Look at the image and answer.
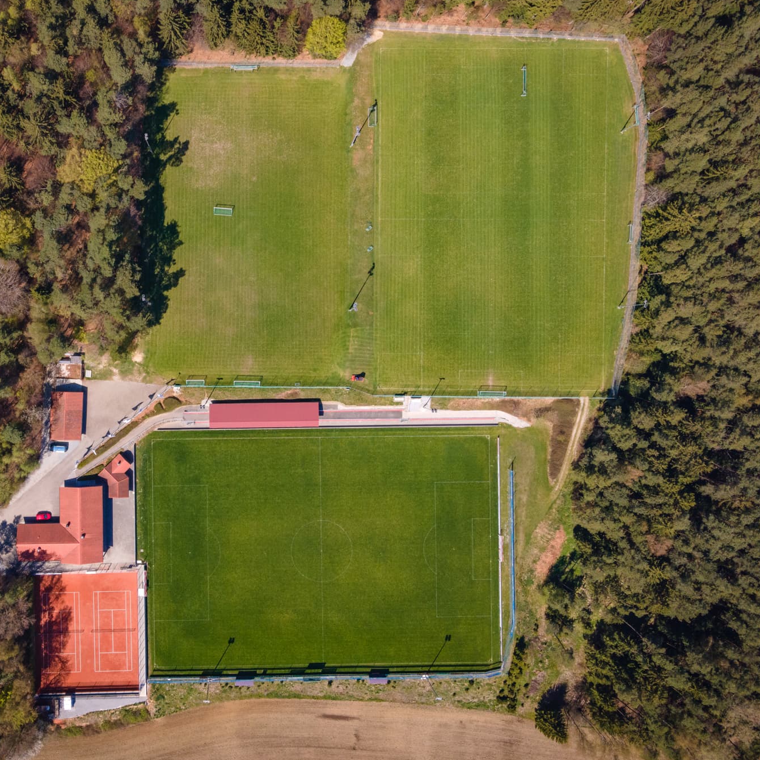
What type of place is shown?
sports ground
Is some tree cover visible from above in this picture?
Yes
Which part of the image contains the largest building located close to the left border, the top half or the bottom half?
bottom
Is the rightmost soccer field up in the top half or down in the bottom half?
top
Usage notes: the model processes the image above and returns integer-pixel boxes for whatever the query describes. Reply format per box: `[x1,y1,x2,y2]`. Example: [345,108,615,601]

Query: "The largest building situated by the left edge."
[17,485,103,565]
